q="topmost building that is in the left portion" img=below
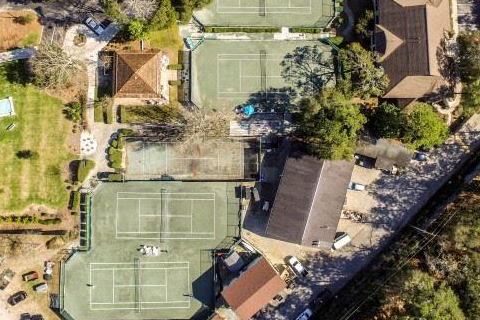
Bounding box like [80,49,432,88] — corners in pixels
[115,51,163,99]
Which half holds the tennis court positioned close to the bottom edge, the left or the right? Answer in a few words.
left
